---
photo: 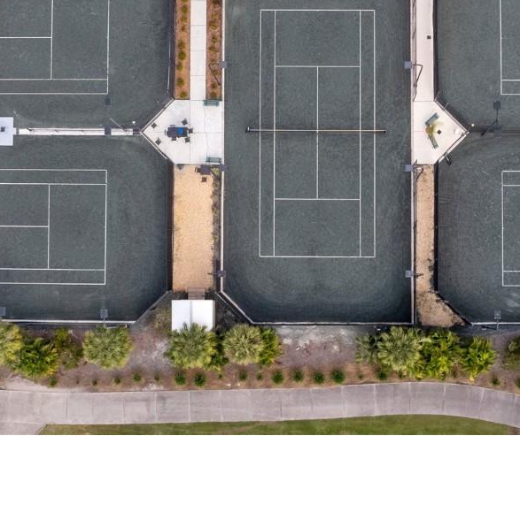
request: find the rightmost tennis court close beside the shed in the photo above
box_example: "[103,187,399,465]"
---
[221,0,414,326]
